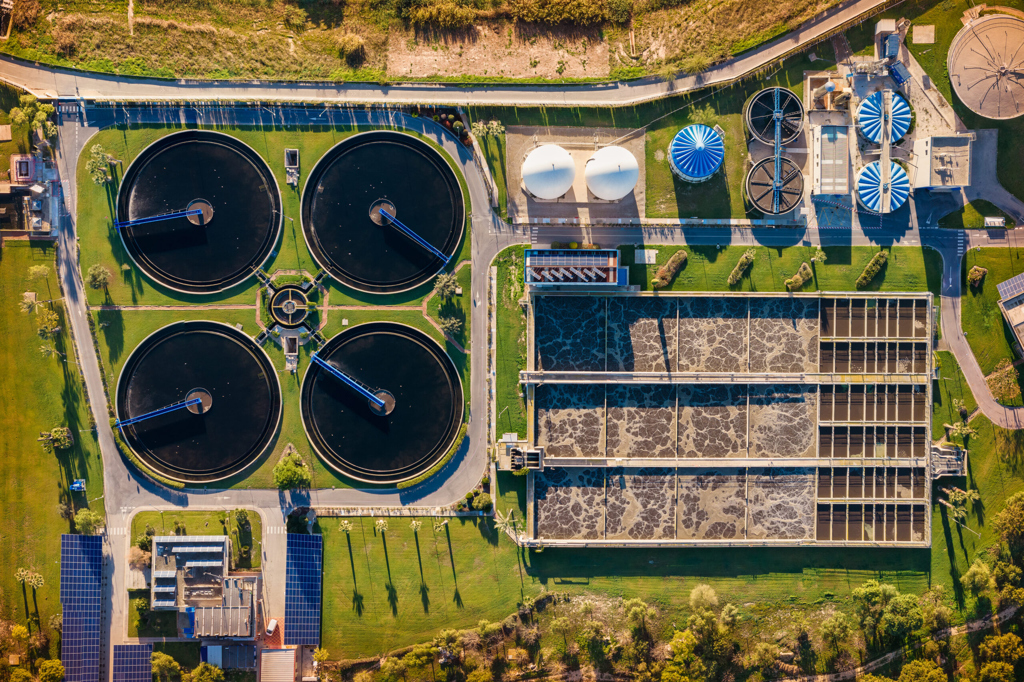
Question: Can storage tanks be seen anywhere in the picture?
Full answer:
Yes, the image includes a storage tank.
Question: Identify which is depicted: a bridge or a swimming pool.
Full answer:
Of the two, only a bridge appears.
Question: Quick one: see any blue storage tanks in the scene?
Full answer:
Yes, there is a blue storage tank in the image.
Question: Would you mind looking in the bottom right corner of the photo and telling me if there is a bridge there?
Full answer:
No, no bridge appears in the bottom right corner of the photo.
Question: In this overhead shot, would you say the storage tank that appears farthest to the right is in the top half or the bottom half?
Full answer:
Seen from above, the storage tank that appears farthest to the right lies in the top half of the view.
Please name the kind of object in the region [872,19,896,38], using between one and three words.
shed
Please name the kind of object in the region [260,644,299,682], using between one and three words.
shed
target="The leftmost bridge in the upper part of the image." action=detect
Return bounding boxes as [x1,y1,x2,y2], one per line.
[112,207,202,234]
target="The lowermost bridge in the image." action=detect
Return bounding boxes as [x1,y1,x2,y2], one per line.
[113,398,202,433]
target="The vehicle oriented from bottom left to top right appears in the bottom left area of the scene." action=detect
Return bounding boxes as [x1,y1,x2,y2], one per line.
[262,617,280,638]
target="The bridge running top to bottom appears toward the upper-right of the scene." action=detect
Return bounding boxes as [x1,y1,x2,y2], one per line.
[769,84,781,214]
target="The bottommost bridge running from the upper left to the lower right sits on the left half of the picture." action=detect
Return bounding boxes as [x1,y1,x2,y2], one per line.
[308,350,385,407]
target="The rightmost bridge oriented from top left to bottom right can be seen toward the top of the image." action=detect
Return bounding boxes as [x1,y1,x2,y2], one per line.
[378,207,453,268]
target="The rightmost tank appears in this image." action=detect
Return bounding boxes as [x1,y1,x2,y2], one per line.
[945,14,1024,121]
